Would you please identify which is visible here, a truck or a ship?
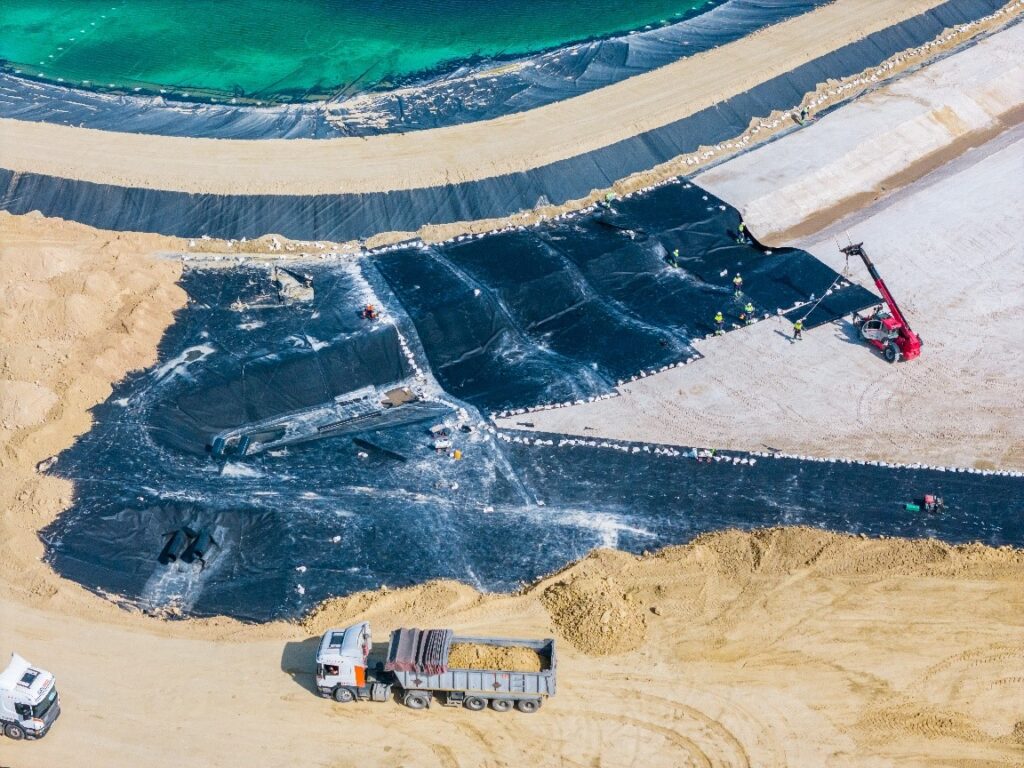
truck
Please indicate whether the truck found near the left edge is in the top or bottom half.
bottom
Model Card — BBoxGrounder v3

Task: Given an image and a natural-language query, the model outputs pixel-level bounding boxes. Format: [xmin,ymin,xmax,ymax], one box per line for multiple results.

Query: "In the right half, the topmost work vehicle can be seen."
[844,233,921,362]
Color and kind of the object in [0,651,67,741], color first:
white truck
